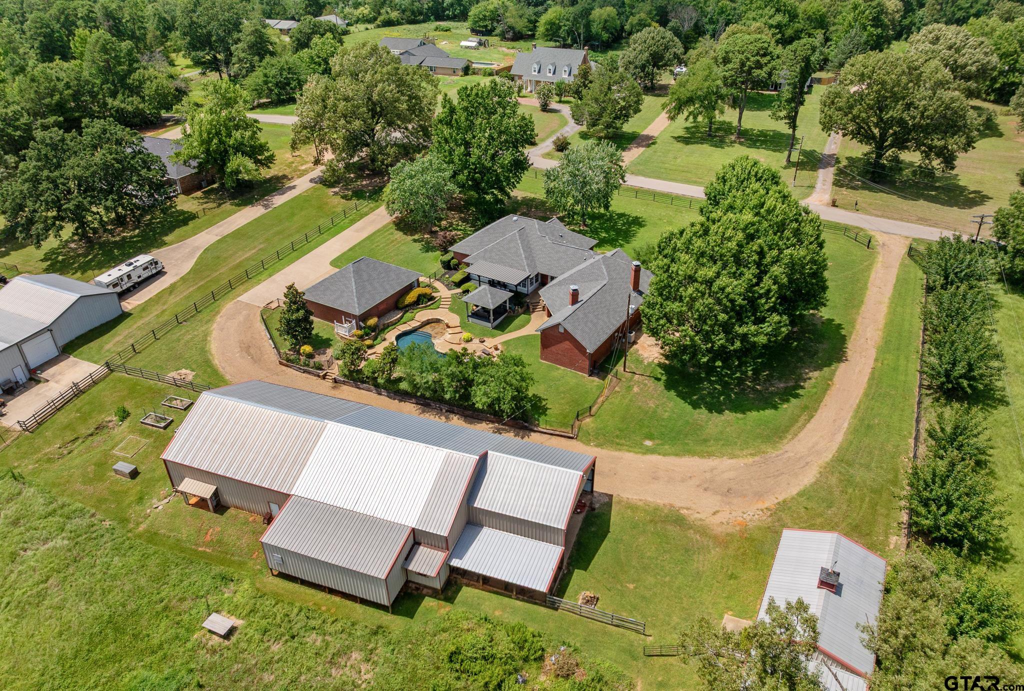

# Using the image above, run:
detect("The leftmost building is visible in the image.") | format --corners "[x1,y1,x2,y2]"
[0,277,124,388]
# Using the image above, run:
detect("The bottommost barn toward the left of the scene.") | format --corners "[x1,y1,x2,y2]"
[158,379,600,613]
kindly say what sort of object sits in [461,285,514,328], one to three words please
gazebo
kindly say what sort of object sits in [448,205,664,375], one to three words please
house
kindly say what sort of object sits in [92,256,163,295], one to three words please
trailer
